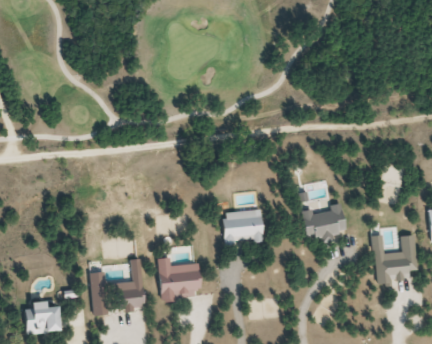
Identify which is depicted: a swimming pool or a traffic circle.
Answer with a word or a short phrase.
swimming pool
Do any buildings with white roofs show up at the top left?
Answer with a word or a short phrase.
No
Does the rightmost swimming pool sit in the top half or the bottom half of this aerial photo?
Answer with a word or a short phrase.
bottom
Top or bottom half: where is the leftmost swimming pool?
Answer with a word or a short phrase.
bottom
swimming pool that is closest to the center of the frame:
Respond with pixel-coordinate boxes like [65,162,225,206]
[234,191,258,208]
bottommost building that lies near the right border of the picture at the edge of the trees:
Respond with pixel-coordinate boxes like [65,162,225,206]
[372,224,419,287]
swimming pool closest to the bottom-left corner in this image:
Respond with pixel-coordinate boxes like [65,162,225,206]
[32,276,55,298]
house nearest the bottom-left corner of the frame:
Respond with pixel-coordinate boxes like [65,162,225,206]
[25,302,62,335]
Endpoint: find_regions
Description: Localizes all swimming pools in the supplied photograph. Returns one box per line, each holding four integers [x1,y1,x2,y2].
[170,246,194,264]
[304,180,330,210]
[234,191,258,208]
[102,264,130,283]
[32,276,55,298]
[380,226,400,251]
